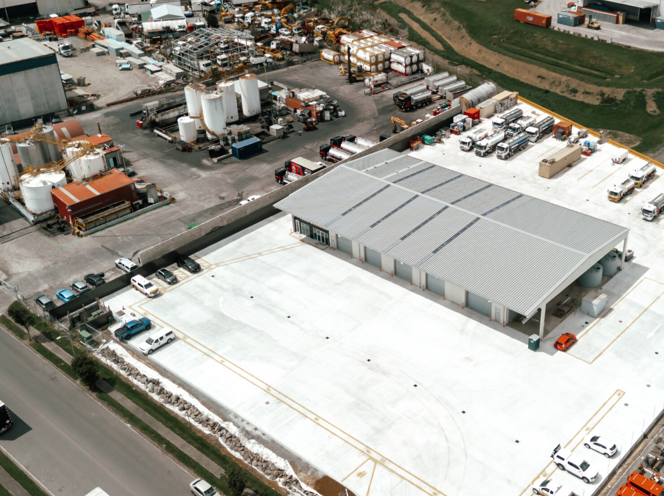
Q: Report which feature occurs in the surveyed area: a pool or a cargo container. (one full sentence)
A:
Of the two, only a cargo container appears.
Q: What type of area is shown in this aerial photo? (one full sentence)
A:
What you see here is an industrial area.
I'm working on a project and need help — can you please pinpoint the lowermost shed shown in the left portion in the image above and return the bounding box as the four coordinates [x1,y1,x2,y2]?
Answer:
[49,171,139,230]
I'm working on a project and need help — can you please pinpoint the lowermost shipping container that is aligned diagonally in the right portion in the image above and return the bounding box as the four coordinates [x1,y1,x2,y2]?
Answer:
[538,143,581,177]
